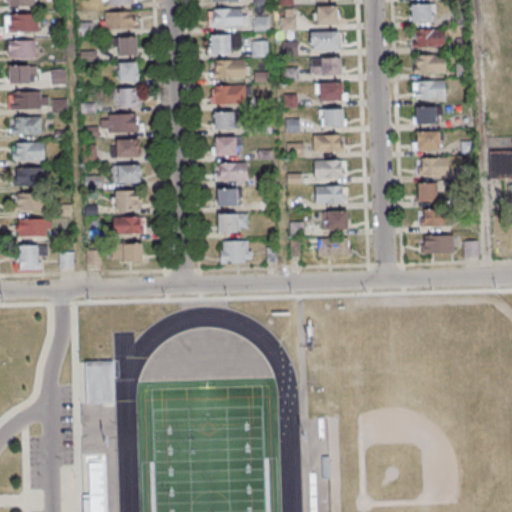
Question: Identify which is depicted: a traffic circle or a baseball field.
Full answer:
The image shows a baseball field.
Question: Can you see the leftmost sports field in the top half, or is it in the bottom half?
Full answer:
The leftmost sports field is in the bottom half of the image.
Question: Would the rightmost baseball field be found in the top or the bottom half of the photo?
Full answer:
The bottom half of the photo is where the rightmost baseball field is.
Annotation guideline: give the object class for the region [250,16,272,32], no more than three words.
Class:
building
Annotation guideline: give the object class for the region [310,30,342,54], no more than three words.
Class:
house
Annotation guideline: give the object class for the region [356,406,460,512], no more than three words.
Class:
baseball field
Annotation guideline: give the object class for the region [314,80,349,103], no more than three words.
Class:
house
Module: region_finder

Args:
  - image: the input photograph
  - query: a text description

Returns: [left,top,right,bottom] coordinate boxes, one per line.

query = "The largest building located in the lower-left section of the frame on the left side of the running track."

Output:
[84,360,116,408]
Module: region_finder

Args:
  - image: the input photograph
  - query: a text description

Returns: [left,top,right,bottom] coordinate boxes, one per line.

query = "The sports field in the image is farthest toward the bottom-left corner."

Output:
[138,378,283,512]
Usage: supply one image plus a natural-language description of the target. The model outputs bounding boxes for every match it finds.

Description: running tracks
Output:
[114,308,304,512]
